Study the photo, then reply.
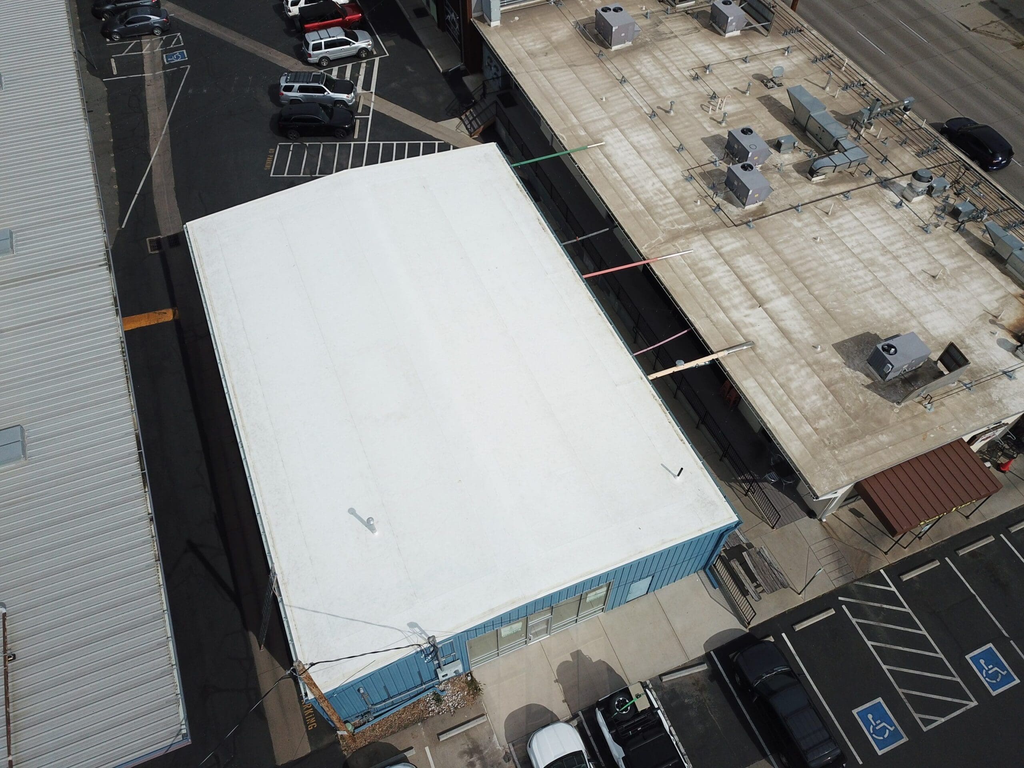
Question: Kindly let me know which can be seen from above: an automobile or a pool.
automobile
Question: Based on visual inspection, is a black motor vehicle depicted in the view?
Yes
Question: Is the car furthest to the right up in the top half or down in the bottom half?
top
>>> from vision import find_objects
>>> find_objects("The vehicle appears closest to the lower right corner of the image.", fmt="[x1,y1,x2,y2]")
[733,640,849,768]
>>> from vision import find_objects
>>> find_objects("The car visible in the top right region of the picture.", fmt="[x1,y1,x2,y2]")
[941,113,1020,170]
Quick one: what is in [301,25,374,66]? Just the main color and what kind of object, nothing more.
gray car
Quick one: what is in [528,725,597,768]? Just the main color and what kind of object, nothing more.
white car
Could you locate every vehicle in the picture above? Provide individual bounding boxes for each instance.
[100,5,169,40]
[293,0,361,30]
[595,681,685,768]
[395,760,431,768]
[941,113,1020,170]
[301,25,374,66]
[280,65,357,106]
[274,98,358,140]
[733,640,849,768]
[528,725,597,768]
